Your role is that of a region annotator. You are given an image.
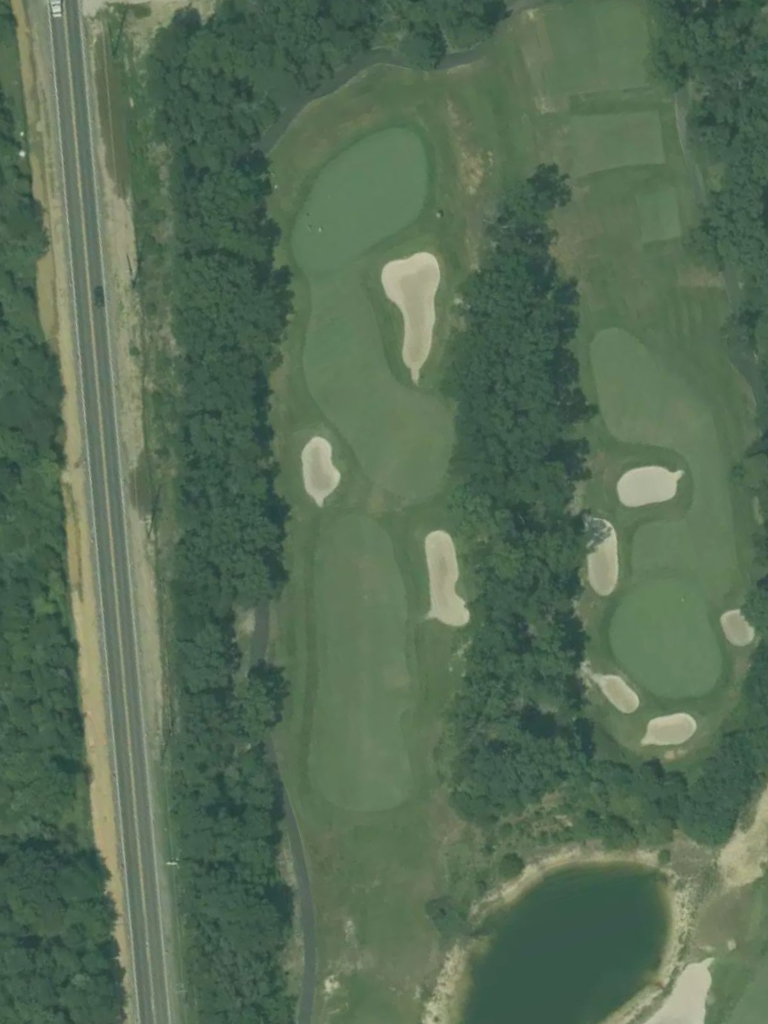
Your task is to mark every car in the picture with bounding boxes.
[94,287,105,309]
[51,0,62,19]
